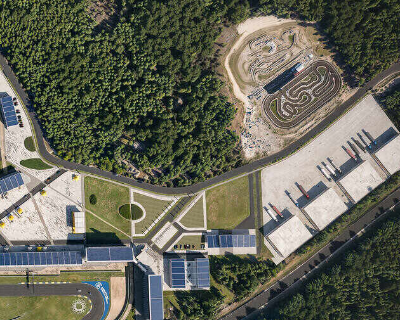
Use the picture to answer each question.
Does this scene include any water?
No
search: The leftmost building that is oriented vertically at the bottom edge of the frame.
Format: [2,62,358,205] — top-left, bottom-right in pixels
[144,275,163,320]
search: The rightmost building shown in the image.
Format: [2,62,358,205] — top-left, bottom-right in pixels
[367,133,400,176]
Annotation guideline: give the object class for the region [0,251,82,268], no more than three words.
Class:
building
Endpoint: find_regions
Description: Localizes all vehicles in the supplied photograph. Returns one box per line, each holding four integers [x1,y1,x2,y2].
[324,164,336,176]
[271,205,282,218]
[360,137,370,149]
[265,208,277,221]
[345,148,357,161]
[365,132,376,144]
[320,168,331,181]
[330,161,340,172]
[296,184,308,199]
[354,140,364,152]
[287,194,298,207]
